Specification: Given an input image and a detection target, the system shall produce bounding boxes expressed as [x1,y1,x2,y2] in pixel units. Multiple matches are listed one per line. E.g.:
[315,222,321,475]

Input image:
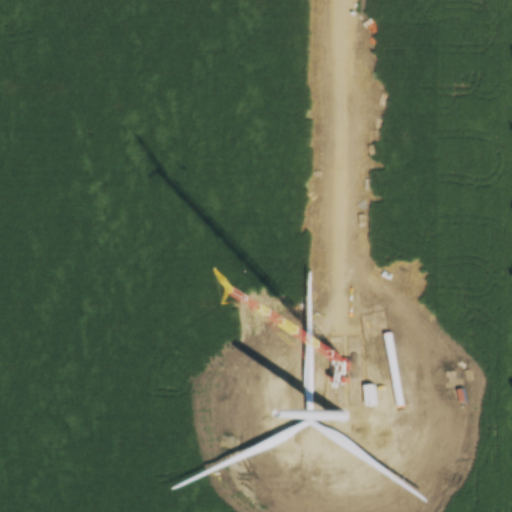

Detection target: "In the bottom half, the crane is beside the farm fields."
[212,265,352,388]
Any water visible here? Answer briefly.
No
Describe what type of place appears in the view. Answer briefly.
farmland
